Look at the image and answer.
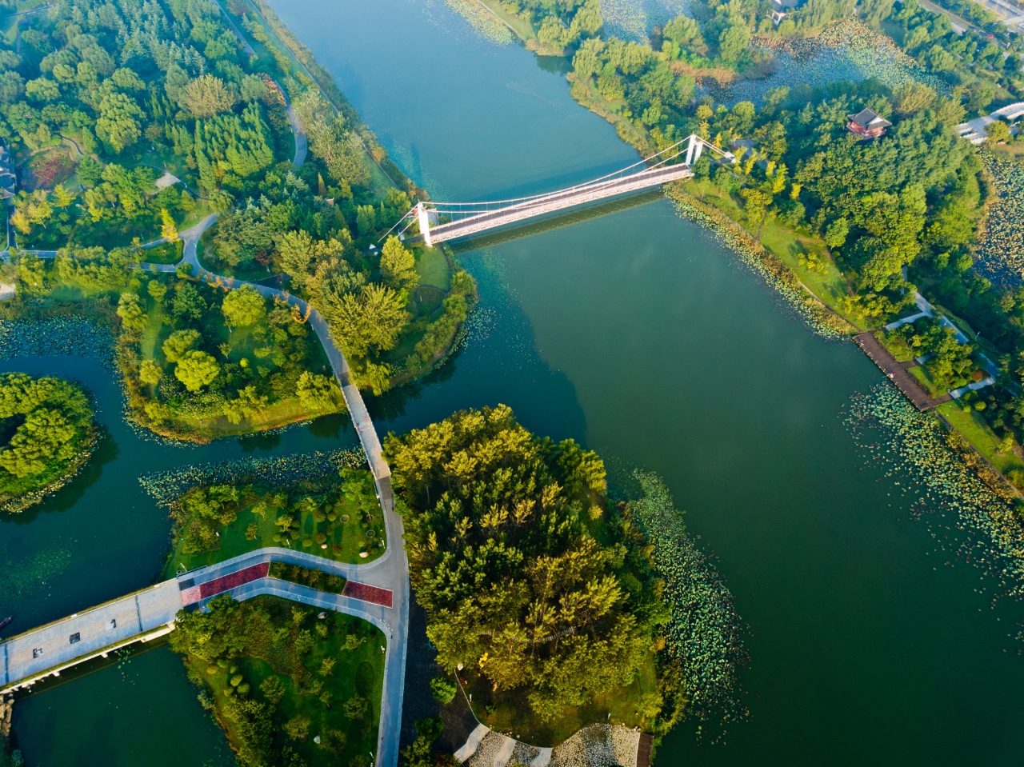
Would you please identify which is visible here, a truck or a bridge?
bridge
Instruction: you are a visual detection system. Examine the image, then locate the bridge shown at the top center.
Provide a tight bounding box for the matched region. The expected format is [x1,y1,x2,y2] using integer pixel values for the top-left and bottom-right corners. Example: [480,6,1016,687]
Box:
[366,130,737,256]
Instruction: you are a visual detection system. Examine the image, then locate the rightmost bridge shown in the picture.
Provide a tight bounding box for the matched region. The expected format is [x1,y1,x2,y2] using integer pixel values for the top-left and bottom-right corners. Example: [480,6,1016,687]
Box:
[955,95,1024,145]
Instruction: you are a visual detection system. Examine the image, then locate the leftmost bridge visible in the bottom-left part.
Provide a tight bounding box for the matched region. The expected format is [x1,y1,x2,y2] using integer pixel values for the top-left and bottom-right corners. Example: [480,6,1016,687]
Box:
[0,570,184,701]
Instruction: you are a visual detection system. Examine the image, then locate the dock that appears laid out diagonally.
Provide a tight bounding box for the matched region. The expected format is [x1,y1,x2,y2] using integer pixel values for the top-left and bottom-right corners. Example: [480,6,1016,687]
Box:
[854,326,953,411]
